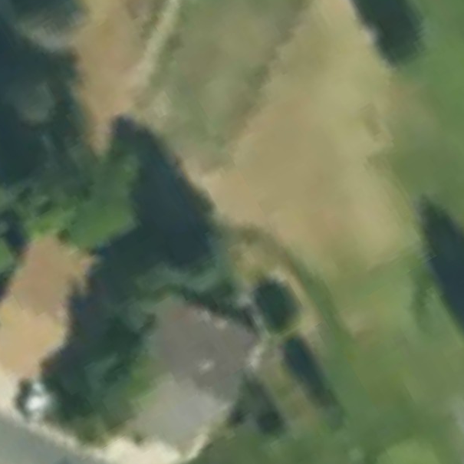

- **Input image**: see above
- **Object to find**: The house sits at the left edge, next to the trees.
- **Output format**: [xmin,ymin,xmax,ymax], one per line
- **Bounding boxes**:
[0,228,96,386]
